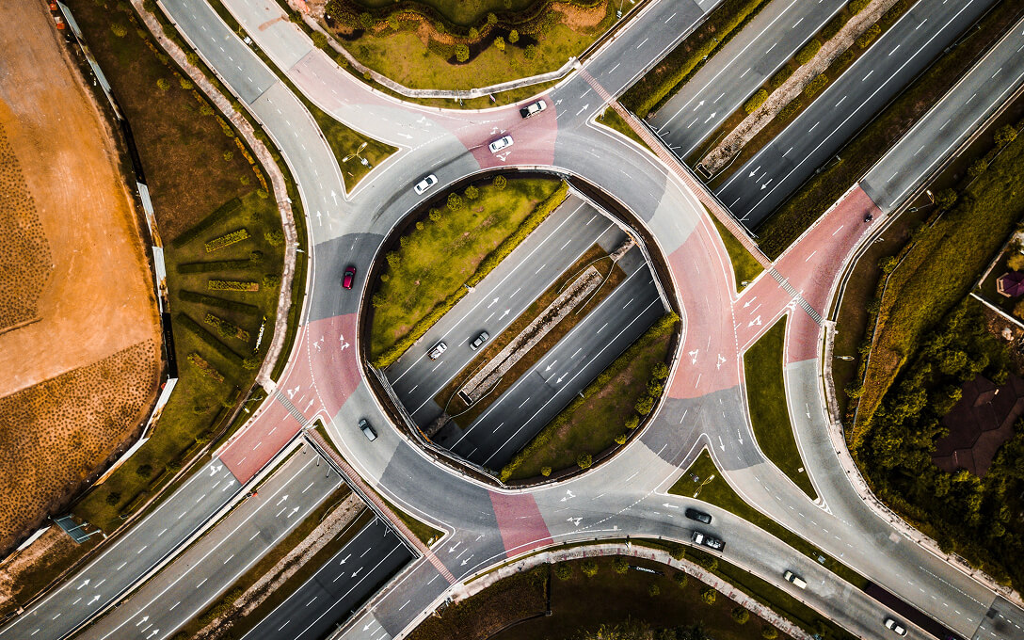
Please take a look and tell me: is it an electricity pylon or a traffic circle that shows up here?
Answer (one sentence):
I can see a traffic circle in this picture.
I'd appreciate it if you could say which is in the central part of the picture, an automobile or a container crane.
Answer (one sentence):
What appears in the central part of the picture is an automobile.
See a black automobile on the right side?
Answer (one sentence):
Yes, you'll find a black automobile on the right side.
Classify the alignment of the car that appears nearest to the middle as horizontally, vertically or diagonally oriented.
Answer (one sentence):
What the image shows is the car that appears nearest to the middle lying diagonally.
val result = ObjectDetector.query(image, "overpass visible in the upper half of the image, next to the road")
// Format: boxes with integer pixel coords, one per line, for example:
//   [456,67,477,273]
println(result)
[561,97,776,317]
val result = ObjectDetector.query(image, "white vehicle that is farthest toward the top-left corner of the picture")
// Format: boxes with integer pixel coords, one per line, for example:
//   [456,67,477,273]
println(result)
[412,174,439,194]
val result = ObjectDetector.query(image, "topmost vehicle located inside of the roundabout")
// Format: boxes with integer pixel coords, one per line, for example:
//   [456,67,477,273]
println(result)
[518,100,548,119]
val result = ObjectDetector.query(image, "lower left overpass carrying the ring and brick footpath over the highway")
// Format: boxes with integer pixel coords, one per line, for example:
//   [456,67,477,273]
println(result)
[300,361,499,559]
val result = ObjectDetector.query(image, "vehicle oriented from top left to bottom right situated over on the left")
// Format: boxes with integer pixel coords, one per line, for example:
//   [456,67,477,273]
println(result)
[358,417,377,441]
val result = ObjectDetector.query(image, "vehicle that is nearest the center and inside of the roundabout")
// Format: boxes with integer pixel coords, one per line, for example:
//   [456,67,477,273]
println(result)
[468,329,491,351]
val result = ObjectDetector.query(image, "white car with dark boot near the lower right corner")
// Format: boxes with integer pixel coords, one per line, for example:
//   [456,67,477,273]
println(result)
[881,616,908,636]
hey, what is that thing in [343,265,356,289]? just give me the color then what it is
red vehicle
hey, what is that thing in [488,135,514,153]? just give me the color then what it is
white car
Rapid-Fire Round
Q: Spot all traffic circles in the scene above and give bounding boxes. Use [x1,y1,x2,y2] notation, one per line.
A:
[220,79,785,584]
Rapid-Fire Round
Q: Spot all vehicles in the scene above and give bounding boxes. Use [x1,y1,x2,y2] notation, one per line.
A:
[412,174,439,194]
[343,265,356,289]
[488,135,514,153]
[468,329,491,351]
[782,570,808,589]
[358,417,377,441]
[684,507,712,523]
[881,616,908,636]
[518,100,548,119]
[691,532,726,552]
